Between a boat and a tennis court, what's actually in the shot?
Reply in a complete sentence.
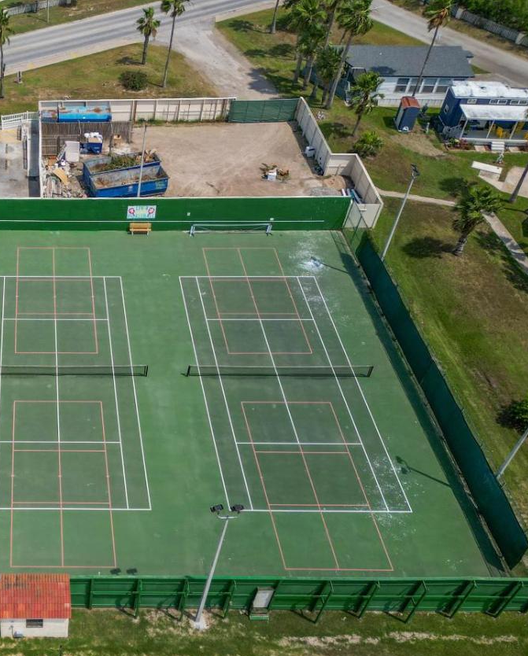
The image shows a tennis court.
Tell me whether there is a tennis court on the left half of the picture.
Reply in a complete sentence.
Yes, a tennis court shows up on the left half of the picture.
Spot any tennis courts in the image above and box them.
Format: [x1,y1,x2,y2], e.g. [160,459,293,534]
[0,246,153,568]
[181,247,411,569]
